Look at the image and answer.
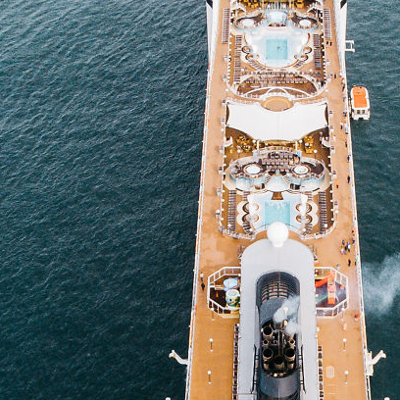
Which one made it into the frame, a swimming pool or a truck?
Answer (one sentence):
The one in the frame is a swimming pool.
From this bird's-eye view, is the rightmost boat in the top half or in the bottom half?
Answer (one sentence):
The rightmost boat sits in the top half of the picture.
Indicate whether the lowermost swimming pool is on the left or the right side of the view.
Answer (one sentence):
The lowermost swimming pool is on the right side of the image.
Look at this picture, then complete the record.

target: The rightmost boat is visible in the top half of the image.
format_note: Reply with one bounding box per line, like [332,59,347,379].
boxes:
[350,89,371,121]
